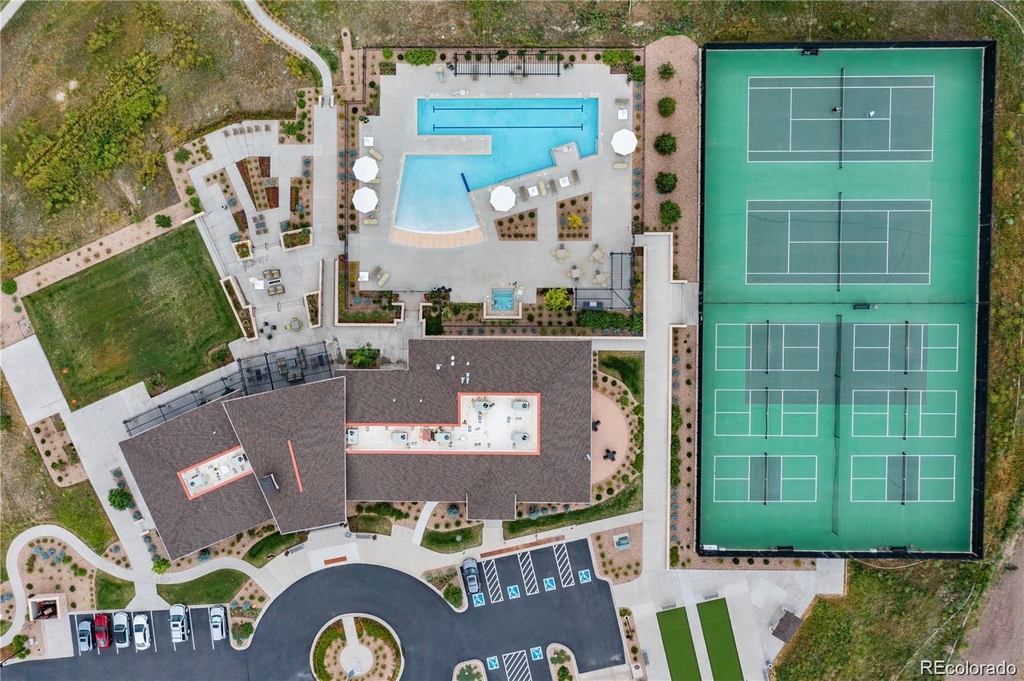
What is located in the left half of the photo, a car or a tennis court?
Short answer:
car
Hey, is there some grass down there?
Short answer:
Yes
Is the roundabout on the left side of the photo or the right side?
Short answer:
left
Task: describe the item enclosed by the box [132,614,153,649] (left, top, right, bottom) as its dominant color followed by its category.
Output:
white car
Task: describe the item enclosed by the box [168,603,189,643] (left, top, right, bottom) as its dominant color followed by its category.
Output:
white car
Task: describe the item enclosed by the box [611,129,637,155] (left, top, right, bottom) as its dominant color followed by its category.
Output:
white umbrella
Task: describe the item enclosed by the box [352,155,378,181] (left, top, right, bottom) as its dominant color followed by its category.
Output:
white umbrella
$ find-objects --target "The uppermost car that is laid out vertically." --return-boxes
[463,557,481,595]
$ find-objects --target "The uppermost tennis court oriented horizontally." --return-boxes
[748,75,935,162]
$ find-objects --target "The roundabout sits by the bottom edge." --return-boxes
[310,613,405,681]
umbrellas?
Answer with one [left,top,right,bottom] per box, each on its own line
[490,186,515,211]
[352,187,378,213]
[352,155,378,181]
[611,129,637,155]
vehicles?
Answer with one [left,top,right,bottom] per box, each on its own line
[93,613,114,648]
[112,612,133,648]
[76,620,97,652]
[463,557,481,595]
[168,603,189,643]
[208,604,229,641]
[132,614,153,649]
